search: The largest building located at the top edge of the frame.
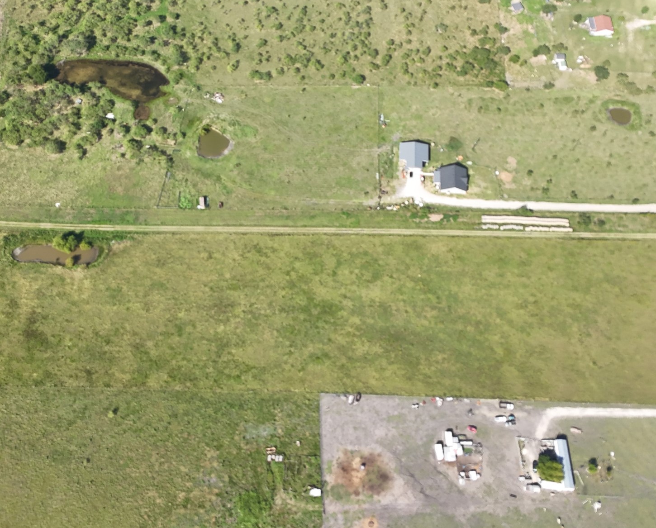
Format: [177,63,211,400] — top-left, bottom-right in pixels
[583,14,614,39]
